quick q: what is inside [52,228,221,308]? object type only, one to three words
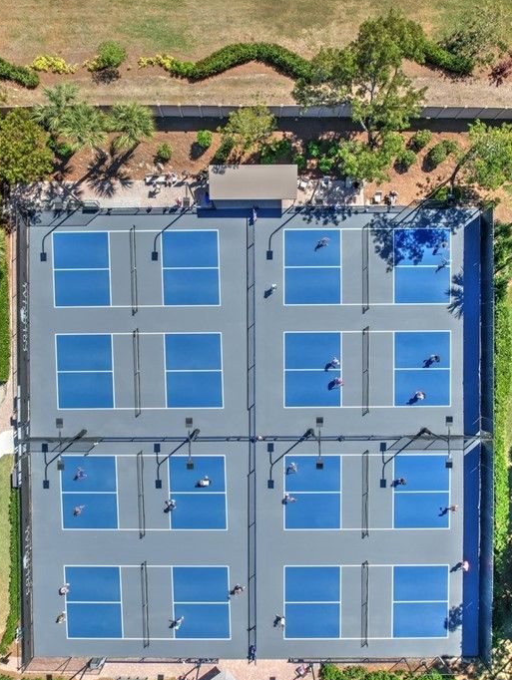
sports court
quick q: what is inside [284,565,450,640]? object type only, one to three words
sports court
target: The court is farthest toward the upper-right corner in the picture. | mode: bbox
[284,227,452,306]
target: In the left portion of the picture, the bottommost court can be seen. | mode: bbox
[63,566,231,640]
